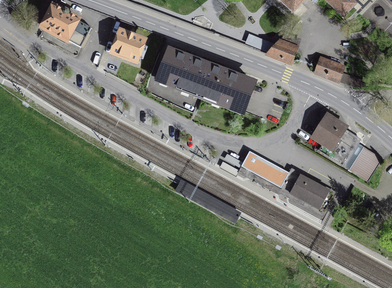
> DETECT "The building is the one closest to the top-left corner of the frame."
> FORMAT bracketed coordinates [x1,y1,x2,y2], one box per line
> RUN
[39,4,82,44]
